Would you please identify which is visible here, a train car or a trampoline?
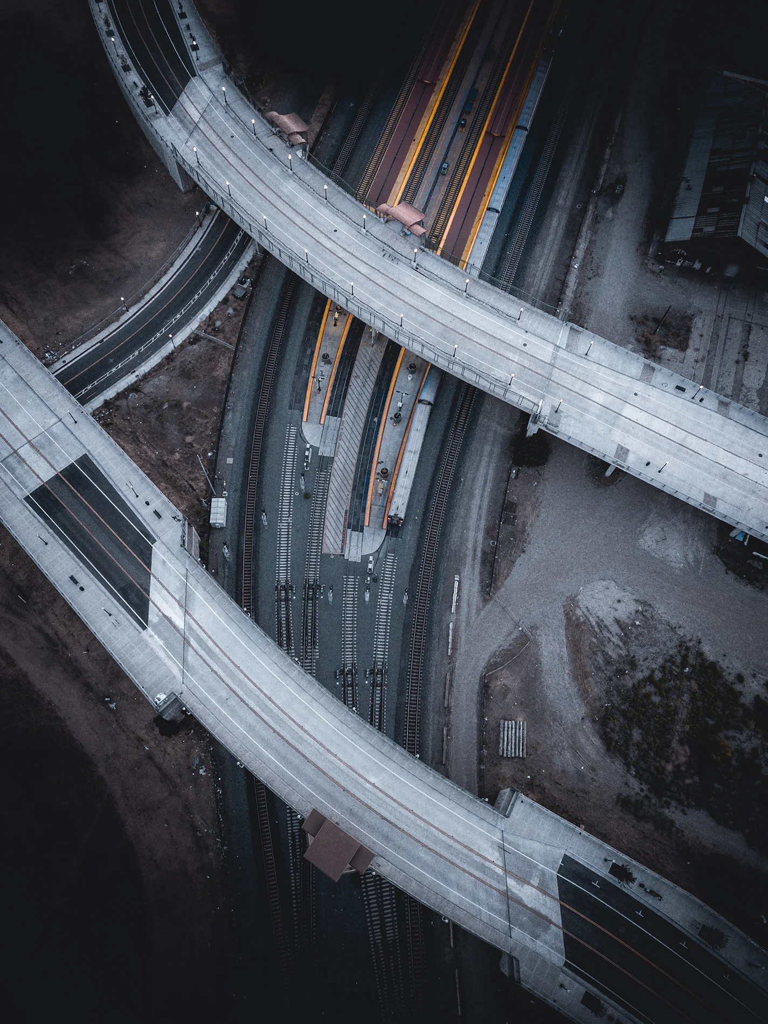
train car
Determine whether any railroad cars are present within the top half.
Yes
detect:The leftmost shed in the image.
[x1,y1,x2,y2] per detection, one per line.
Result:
[208,498,230,530]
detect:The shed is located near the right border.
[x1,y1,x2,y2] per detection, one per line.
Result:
[652,73,768,293]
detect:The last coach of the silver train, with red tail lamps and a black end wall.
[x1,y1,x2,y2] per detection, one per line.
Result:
[387,400,432,532]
